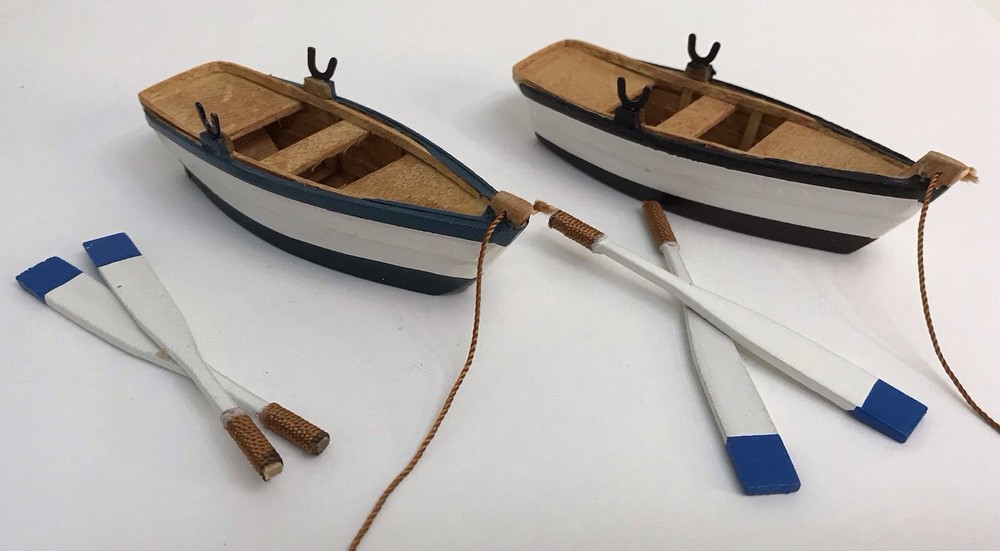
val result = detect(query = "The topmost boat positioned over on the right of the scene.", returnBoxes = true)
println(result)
[512,34,979,250]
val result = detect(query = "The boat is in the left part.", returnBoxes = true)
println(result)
[140,47,564,290]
